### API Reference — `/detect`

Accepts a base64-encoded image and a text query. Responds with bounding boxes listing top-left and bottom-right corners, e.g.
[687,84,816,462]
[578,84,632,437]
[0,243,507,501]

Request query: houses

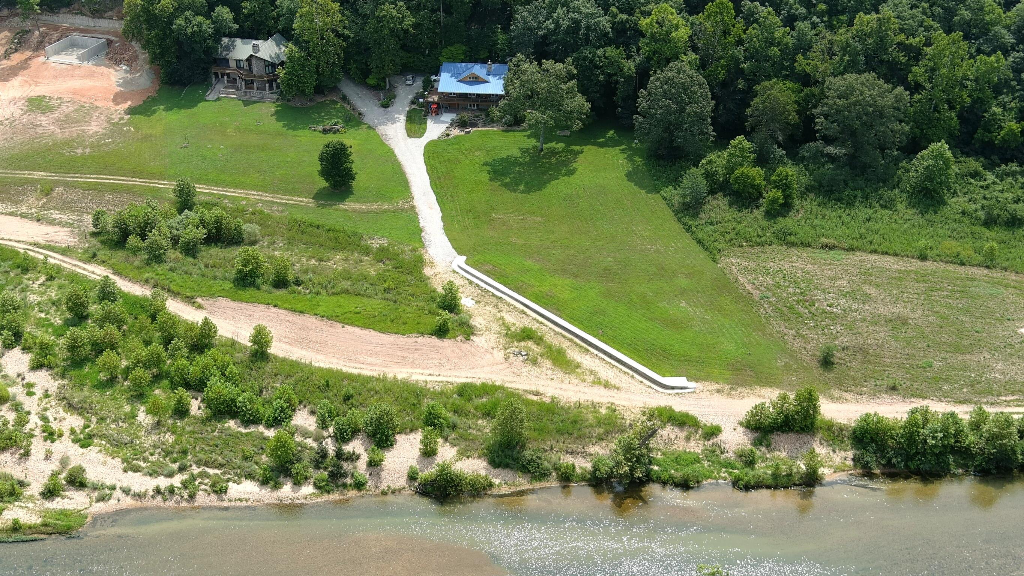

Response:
[200,26,296,98]
[424,57,507,123]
